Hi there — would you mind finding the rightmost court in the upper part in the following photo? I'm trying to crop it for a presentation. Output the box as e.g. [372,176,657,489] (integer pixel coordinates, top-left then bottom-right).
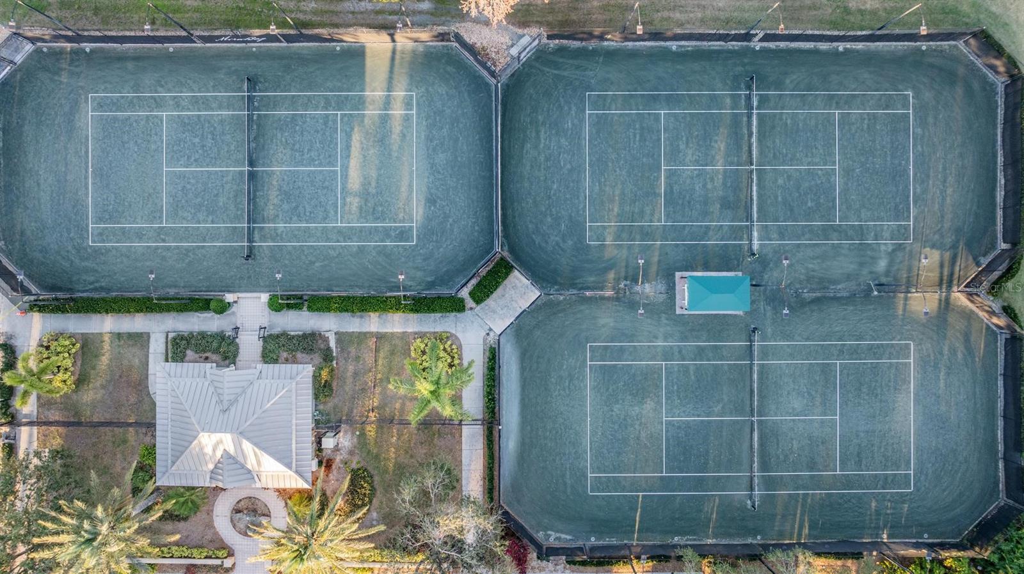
[499,42,1001,293]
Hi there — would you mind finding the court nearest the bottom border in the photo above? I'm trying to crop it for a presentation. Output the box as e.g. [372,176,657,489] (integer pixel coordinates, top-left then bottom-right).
[499,293,997,544]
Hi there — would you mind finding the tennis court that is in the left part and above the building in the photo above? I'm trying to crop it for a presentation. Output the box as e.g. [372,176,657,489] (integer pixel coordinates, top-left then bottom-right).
[0,42,498,294]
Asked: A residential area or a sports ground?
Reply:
sports ground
